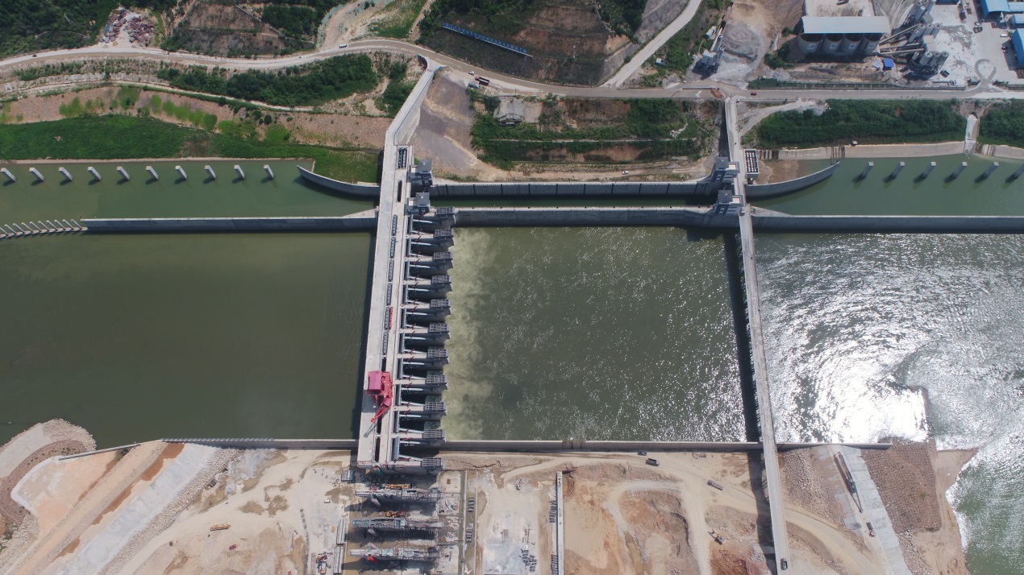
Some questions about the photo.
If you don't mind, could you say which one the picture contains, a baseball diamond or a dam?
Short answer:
dam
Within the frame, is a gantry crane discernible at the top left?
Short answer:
No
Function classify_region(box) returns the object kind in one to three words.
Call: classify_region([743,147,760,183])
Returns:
building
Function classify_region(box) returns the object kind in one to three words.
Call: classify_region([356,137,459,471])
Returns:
dam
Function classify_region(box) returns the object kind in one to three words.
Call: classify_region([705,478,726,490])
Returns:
vehicle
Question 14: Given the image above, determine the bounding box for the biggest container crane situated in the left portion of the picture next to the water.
[365,373,398,428]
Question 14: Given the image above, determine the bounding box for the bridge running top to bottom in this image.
[720,97,791,575]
